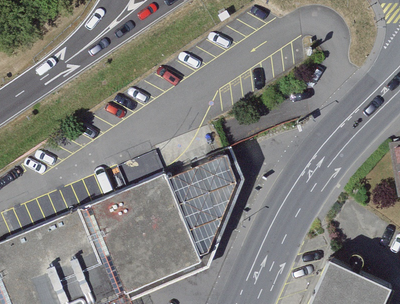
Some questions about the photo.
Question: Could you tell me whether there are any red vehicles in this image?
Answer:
Yes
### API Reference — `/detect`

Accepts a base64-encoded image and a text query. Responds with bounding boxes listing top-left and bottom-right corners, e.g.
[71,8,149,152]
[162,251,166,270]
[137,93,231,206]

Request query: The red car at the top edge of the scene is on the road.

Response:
[138,3,158,20]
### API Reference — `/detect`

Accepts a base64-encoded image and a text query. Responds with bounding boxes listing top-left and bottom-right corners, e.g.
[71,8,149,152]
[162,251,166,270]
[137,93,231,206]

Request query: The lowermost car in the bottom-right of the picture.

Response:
[292,266,314,278]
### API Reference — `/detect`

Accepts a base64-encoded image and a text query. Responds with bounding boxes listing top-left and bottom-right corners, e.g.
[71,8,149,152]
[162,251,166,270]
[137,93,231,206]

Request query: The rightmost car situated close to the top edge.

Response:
[250,6,270,22]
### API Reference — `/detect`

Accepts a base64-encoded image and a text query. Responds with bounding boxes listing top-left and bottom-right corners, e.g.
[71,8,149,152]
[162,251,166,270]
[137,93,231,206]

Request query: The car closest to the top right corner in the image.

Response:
[386,70,400,90]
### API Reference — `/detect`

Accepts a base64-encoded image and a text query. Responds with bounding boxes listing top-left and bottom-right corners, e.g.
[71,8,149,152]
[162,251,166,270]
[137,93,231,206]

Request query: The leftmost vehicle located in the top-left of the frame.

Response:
[36,58,56,76]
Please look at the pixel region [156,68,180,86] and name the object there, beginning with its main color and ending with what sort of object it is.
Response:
red car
